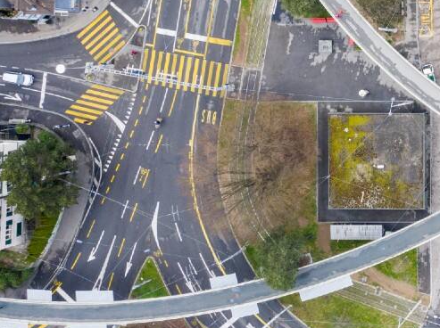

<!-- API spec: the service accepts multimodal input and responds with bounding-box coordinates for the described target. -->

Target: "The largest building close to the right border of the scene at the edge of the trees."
[327,113,428,210]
